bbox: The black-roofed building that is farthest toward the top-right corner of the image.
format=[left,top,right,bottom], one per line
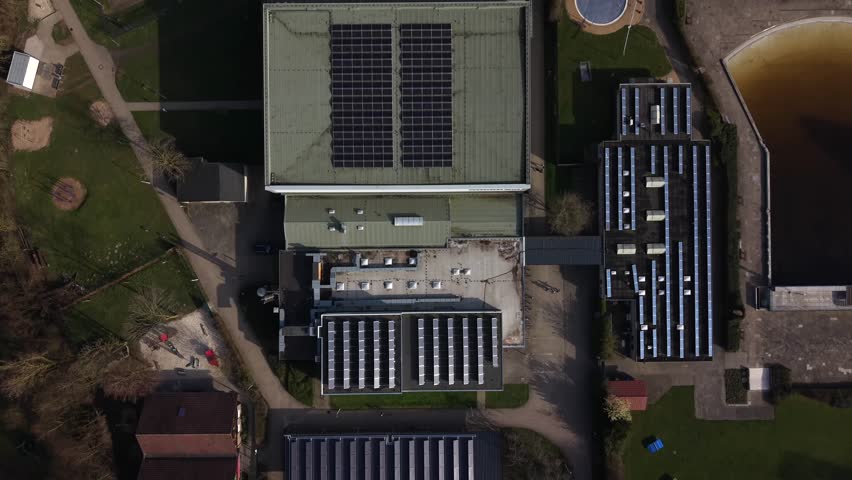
[595,78,714,360]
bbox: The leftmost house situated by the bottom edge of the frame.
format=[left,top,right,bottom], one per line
[133,388,243,480]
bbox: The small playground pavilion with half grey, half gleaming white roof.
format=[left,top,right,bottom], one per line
[7,51,48,92]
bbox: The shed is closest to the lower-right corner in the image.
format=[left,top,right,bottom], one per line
[743,365,770,390]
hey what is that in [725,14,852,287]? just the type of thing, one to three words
swimming pool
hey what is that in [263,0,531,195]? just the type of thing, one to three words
building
